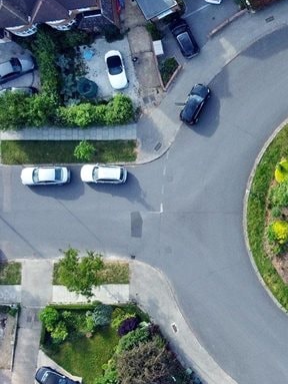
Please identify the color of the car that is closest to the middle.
white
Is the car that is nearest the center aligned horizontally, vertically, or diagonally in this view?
horizontally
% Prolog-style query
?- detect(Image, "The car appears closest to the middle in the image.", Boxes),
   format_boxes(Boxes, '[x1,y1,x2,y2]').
[83,162,129,186]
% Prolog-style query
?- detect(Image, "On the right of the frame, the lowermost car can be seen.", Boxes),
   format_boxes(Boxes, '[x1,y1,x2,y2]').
[177,82,213,127]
